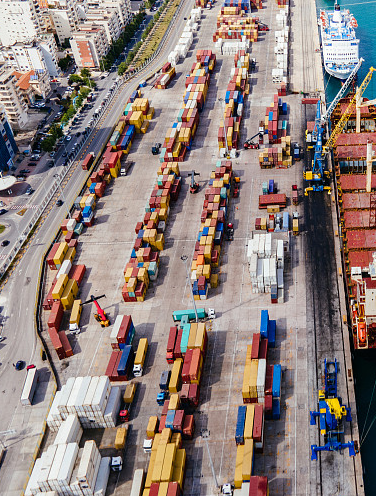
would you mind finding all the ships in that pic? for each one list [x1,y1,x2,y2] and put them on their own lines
[320,0,362,91]
[331,87,376,359]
